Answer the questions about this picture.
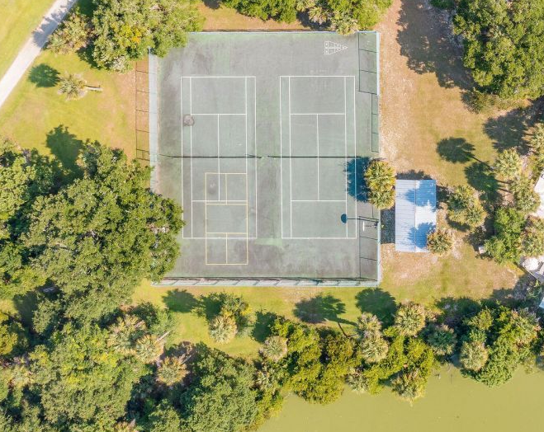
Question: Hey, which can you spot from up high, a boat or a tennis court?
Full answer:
Of the two, only a tennis court appears.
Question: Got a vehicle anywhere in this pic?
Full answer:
No, no vehicle can be seen from above.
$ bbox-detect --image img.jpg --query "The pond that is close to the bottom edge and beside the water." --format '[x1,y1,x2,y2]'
[253,363,544,432]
